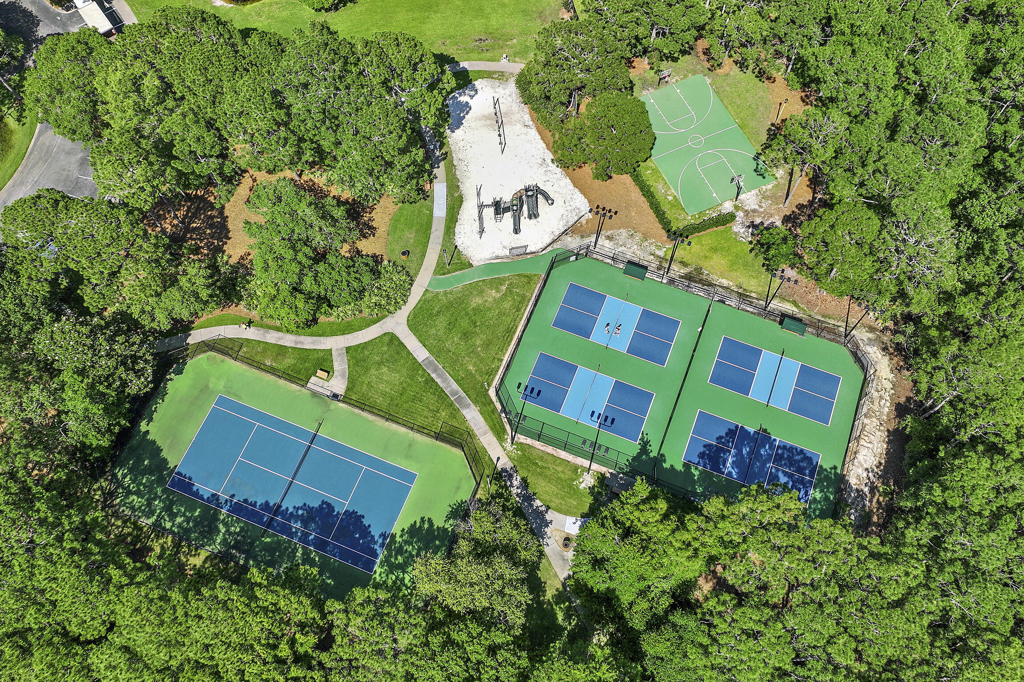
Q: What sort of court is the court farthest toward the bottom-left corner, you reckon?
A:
tennis court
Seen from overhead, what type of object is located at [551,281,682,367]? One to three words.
sports court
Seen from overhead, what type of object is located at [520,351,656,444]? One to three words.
sports court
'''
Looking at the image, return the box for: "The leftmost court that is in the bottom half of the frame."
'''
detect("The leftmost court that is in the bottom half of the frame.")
[103,352,477,624]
